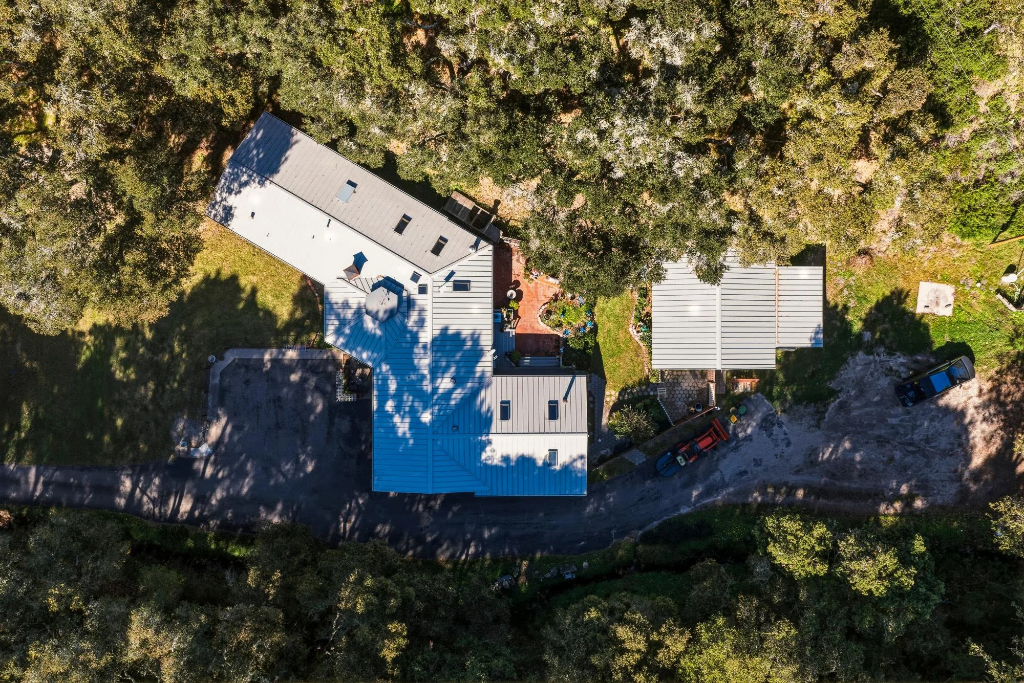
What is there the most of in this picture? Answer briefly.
trees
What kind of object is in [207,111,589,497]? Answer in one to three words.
house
